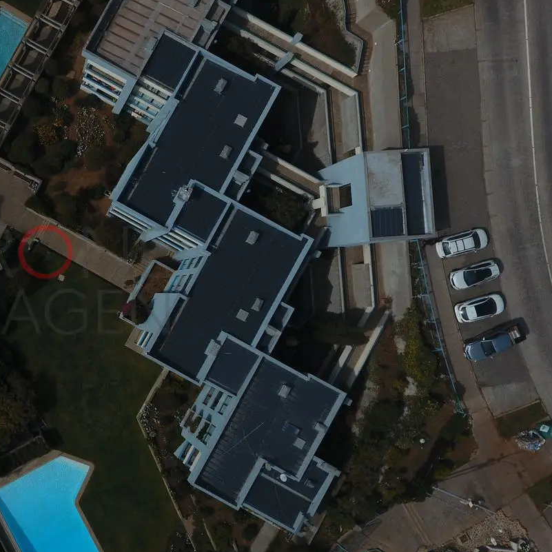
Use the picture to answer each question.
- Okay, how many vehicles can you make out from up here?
4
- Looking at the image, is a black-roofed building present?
Yes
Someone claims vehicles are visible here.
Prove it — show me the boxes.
[431,229,486,258]
[459,322,527,362]
[447,258,499,287]
[451,293,504,322]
